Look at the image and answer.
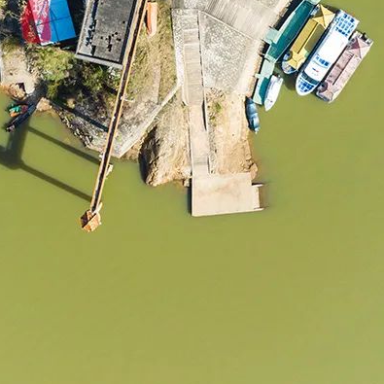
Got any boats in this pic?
Yes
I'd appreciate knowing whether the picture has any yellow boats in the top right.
Yes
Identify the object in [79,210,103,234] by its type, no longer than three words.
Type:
shed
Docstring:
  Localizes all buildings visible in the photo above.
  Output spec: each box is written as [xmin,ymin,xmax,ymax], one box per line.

[22,0,78,48]
[77,0,140,70]
[79,210,103,234]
